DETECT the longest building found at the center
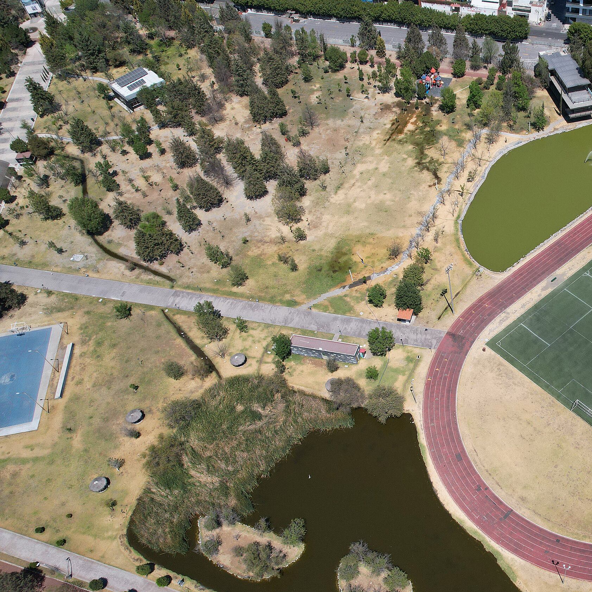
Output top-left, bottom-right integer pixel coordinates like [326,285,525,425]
[290,334,366,363]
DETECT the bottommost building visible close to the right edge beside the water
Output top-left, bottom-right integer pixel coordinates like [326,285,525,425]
[538,47,592,118]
